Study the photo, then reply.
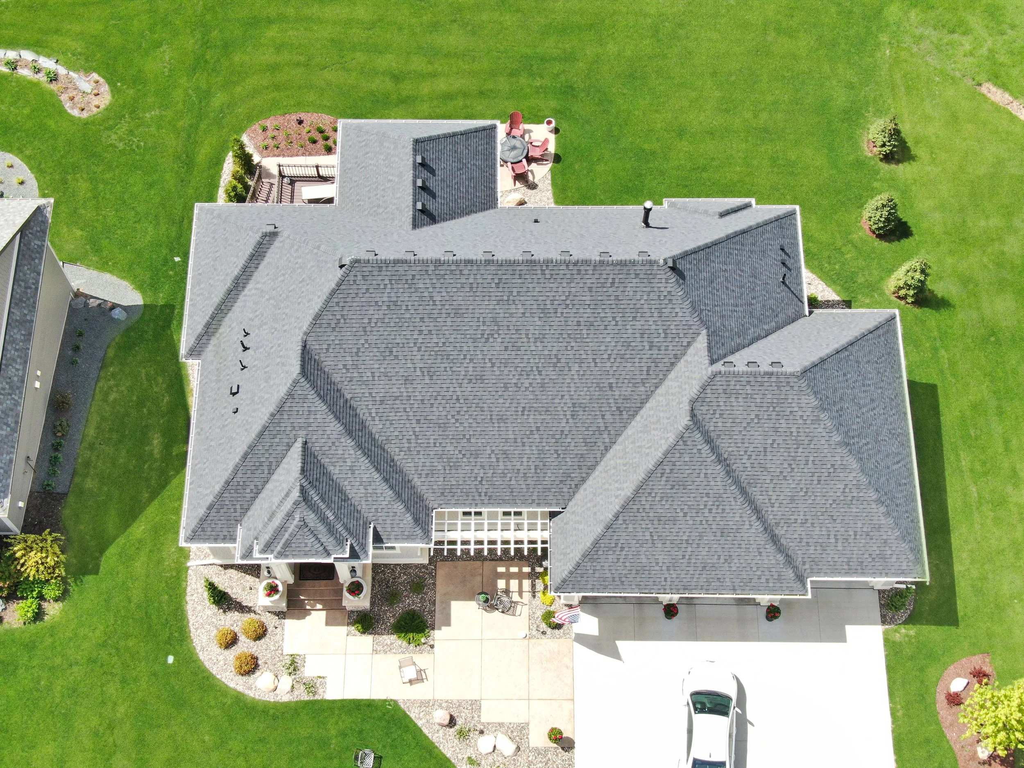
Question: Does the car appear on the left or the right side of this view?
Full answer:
The car is on the right side of the image.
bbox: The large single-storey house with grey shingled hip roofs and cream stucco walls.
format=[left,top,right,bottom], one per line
[180,118,931,611]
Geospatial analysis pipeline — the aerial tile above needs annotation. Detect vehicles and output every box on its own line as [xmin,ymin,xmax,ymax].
[673,659,744,768]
